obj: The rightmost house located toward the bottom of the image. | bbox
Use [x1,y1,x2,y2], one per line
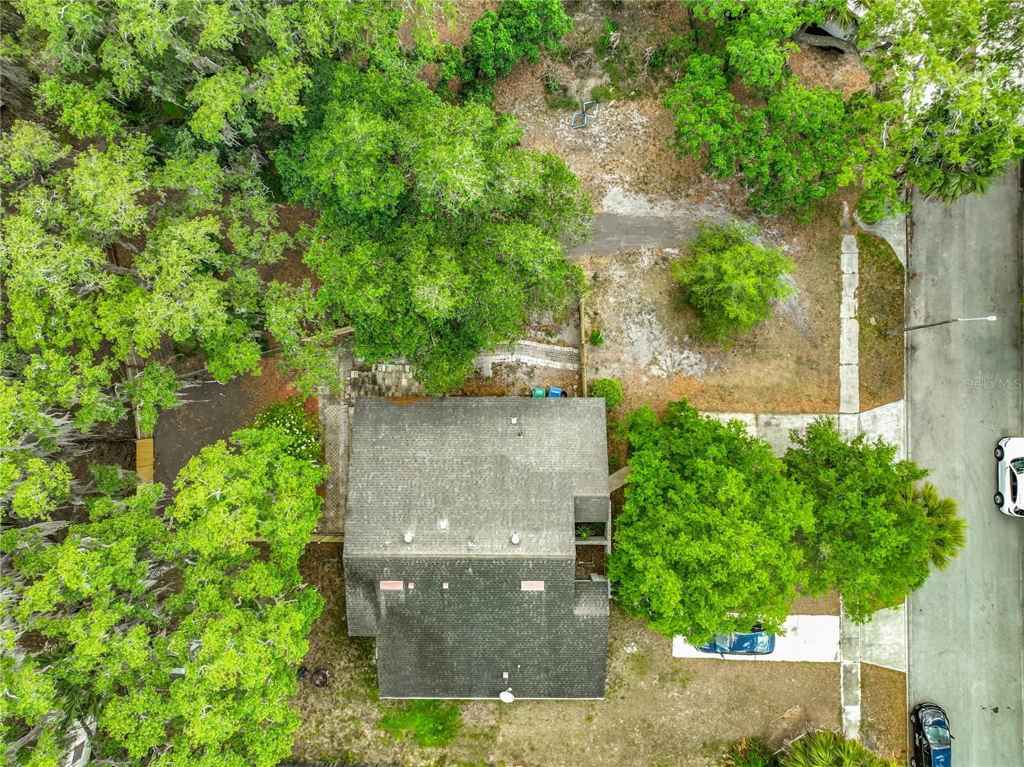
[345,397,610,701]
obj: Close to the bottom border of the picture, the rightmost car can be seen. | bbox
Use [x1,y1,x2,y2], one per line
[910,702,956,767]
